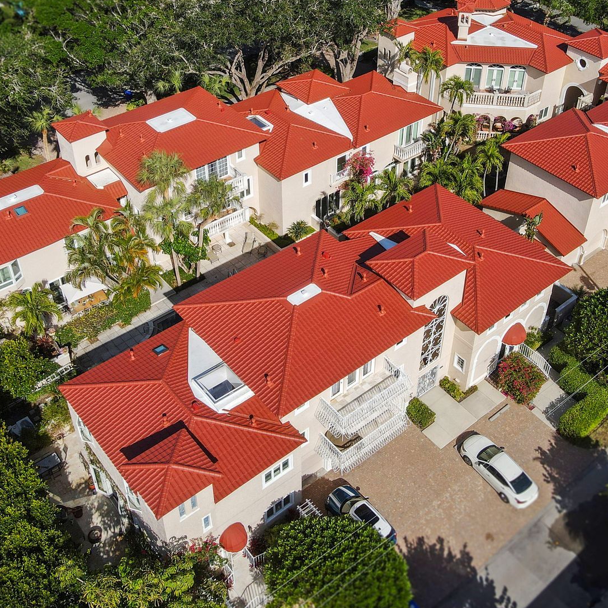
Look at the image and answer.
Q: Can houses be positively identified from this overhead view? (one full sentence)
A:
Yes, the photo shows a house.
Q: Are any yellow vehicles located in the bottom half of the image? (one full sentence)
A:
No, no yellow vehicle is visible in the bottom half of the image.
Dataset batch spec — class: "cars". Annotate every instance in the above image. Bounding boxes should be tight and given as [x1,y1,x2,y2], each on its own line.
[457,431,544,508]
[328,486,395,552]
